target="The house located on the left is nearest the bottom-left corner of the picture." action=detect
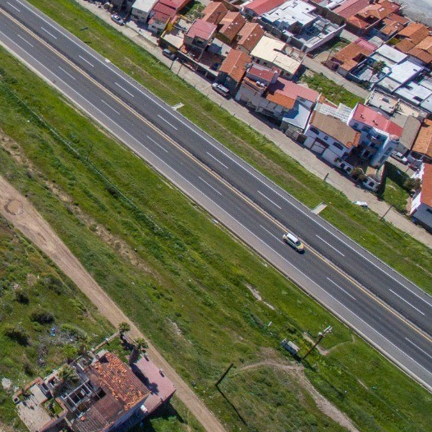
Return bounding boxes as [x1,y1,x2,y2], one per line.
[9,332,175,432]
